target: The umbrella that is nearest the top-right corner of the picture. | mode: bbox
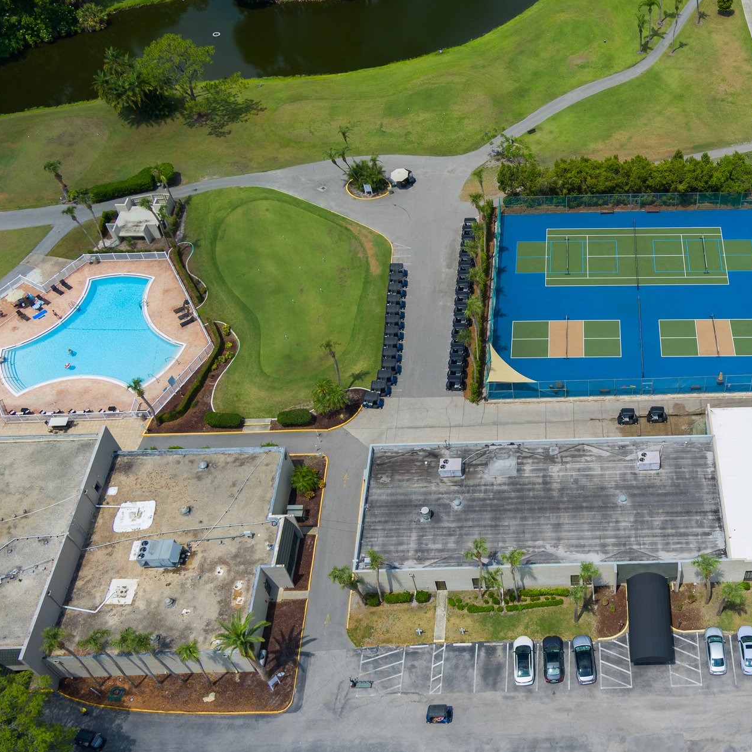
[389,166,409,179]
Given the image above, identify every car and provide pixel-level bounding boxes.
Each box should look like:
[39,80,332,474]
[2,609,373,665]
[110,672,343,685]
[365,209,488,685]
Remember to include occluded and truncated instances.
[738,627,752,676]
[541,636,565,684]
[572,635,597,686]
[511,636,535,686]
[703,628,727,676]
